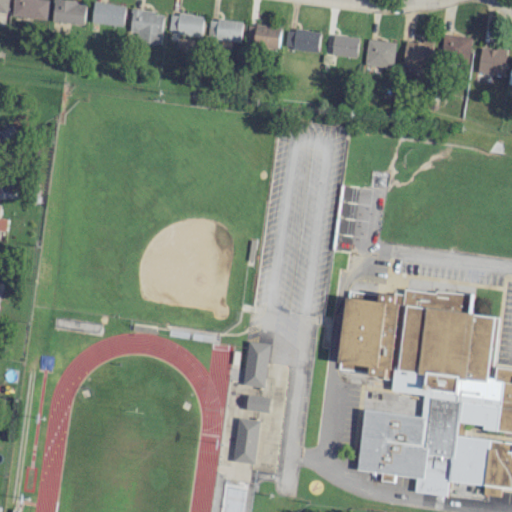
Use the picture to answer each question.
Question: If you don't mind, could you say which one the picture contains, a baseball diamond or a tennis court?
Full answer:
Of the two, only a baseball diamond appears.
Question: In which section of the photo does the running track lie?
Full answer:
The running track is in the bottom left part of the image.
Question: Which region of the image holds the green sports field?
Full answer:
The green sports field sits in the bottom left section of the image.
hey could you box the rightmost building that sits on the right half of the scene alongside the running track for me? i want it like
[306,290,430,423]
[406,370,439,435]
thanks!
[338,288,512,498]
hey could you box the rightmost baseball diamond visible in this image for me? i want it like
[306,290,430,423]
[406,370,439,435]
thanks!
[139,218,234,320]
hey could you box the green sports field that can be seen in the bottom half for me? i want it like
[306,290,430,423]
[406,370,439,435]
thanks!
[58,356,201,512]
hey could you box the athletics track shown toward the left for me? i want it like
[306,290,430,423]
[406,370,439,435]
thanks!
[36,334,233,512]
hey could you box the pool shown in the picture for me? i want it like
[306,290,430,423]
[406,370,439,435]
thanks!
[5,369,18,383]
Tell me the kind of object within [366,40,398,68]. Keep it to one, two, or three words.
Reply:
house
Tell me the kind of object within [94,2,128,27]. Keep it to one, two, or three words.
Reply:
house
